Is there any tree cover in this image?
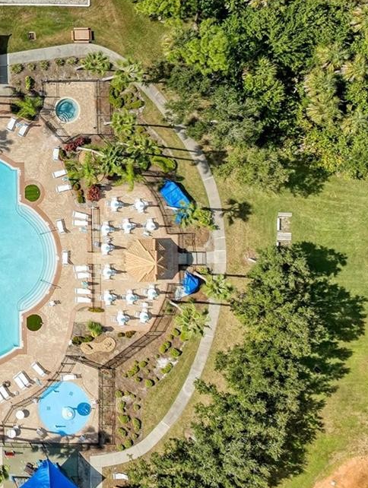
Yes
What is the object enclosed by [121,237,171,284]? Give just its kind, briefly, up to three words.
building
